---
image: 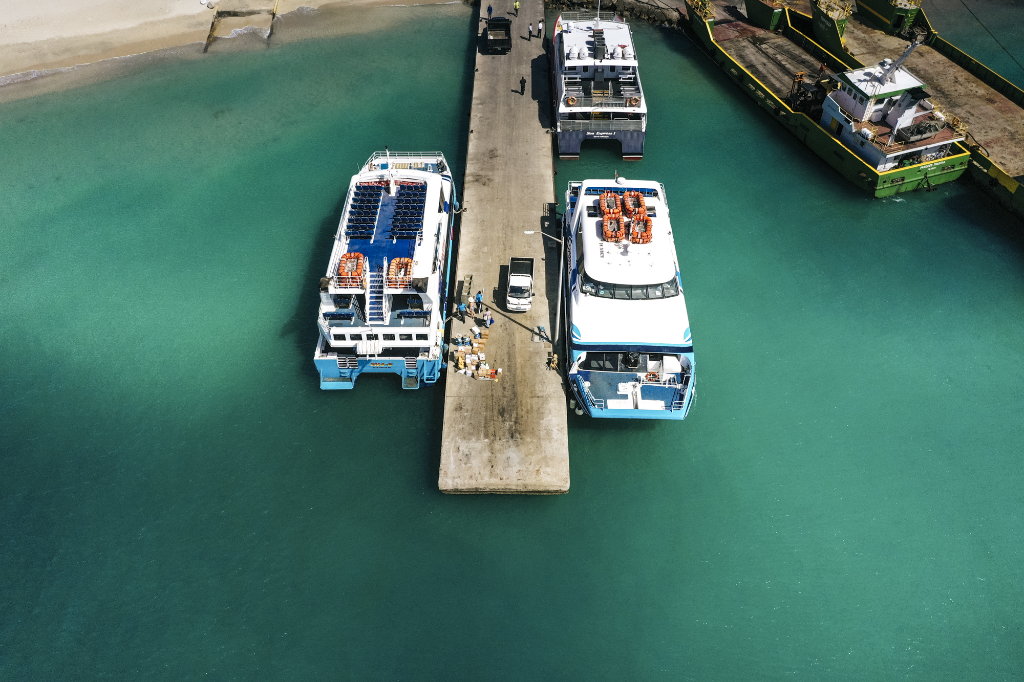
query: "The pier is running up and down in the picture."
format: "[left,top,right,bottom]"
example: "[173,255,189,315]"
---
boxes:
[439,0,569,497]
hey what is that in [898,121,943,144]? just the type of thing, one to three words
boat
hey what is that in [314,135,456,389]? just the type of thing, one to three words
ship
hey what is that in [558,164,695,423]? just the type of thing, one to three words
ship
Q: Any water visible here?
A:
Yes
